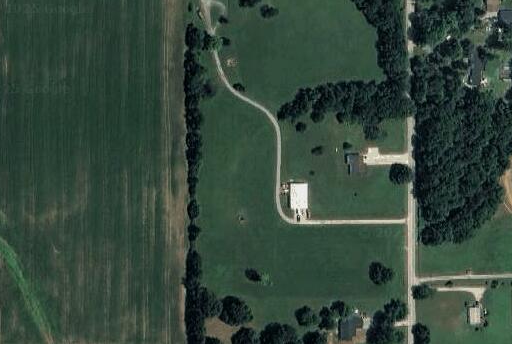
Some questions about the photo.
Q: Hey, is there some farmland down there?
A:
Yes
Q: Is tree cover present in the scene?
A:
Yes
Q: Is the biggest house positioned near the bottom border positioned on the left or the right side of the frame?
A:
right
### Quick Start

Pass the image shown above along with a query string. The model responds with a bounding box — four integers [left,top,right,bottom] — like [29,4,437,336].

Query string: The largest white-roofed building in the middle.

[290,183,308,209]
